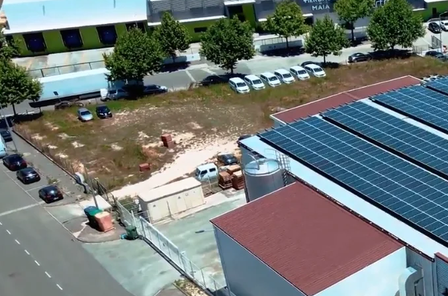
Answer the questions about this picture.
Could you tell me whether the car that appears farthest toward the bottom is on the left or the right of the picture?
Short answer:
left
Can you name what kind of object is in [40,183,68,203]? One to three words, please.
car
